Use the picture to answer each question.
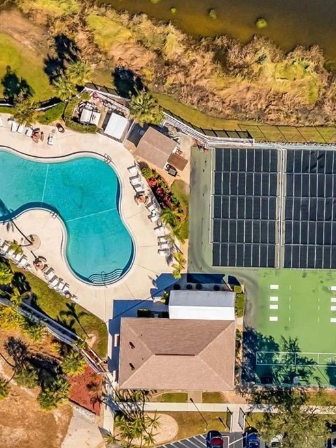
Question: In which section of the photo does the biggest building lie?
bottom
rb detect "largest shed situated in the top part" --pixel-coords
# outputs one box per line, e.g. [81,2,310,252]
[135,126,177,169]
